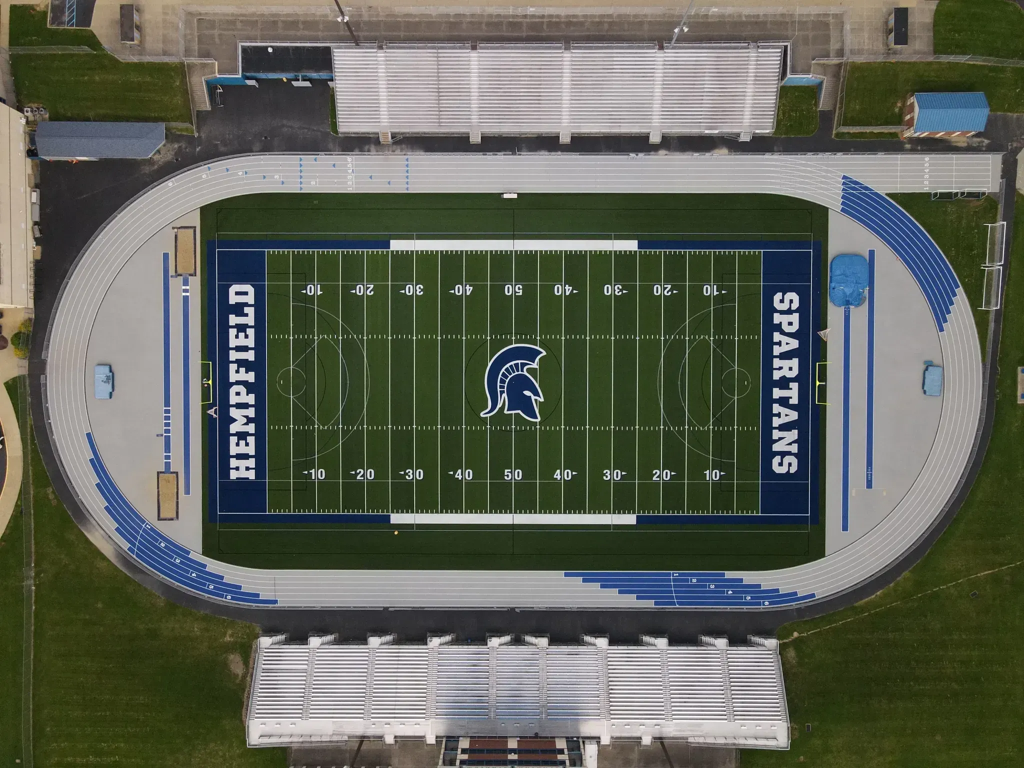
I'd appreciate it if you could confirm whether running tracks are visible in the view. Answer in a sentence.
Yes, the frame does contain a running track.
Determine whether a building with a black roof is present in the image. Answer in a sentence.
Yes, the photo shows a building with a black roof.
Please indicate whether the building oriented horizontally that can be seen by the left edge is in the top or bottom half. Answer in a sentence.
The building oriented horizontally that can be seen by the left edge sits in the top half of the picture.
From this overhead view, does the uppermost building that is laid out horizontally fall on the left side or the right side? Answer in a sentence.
It is on the left.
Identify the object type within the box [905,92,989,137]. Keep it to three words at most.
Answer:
building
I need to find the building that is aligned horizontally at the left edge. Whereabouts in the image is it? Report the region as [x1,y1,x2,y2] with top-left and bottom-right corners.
[35,122,166,162]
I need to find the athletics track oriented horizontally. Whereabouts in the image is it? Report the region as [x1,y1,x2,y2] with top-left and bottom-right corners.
[50,153,1002,606]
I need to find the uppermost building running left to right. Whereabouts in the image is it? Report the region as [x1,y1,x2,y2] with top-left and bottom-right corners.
[245,46,336,80]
